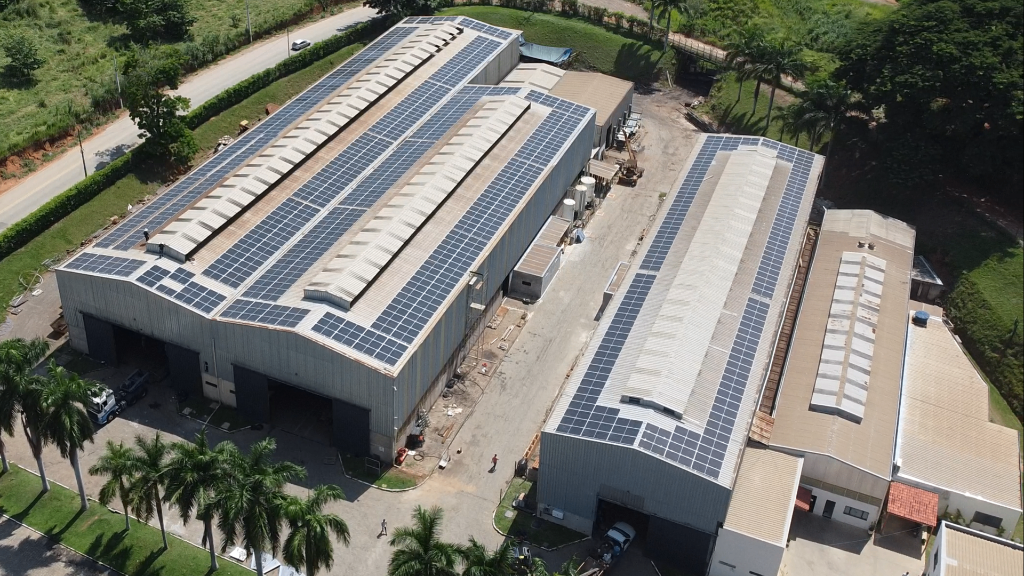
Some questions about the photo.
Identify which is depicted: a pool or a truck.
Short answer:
truck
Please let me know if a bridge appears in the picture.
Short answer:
Yes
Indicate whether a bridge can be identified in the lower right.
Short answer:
No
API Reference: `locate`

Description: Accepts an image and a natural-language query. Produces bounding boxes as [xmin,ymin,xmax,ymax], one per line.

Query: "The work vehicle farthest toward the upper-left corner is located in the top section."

[232,119,250,134]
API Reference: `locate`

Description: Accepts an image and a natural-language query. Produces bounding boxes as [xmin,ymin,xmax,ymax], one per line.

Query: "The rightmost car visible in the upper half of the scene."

[288,35,310,48]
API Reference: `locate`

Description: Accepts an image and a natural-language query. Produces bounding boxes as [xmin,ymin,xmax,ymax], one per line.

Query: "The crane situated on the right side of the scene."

[618,118,648,185]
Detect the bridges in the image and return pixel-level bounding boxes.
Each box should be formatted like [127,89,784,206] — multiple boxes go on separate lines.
[670,33,740,79]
